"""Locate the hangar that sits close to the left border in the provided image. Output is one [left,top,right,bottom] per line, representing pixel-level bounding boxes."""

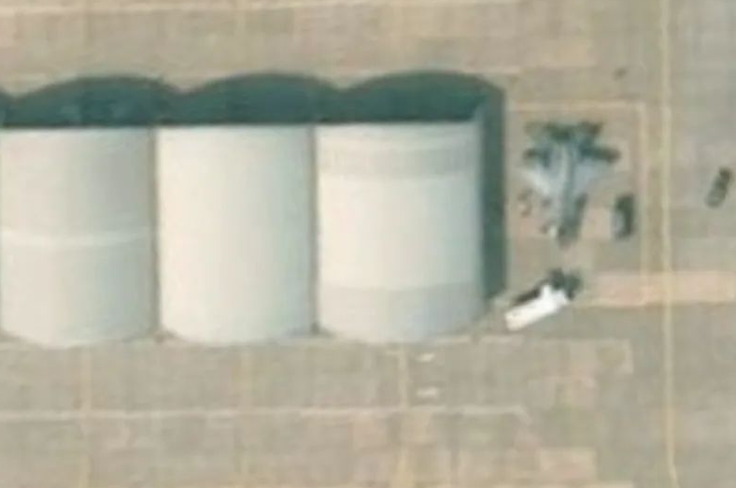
[0,120,162,344]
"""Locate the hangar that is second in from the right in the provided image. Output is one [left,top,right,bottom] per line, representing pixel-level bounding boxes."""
[157,119,319,342]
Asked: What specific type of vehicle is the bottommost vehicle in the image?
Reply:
truck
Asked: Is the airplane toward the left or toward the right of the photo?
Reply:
right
